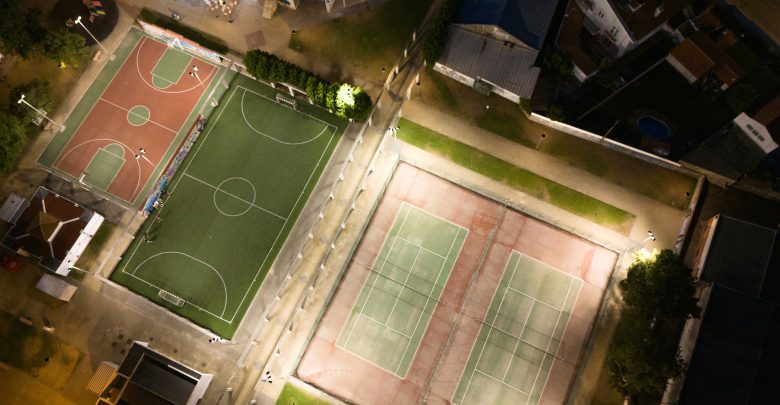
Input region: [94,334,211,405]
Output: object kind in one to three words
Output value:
building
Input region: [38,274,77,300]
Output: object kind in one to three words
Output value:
shed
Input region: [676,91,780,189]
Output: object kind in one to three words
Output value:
house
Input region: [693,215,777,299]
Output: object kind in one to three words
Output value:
building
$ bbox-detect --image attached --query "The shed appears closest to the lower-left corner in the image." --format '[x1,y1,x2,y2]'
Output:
[86,360,121,395]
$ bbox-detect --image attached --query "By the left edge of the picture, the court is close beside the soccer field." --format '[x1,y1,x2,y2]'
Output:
[33,27,225,217]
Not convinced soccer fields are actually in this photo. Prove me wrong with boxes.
[112,80,348,339]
